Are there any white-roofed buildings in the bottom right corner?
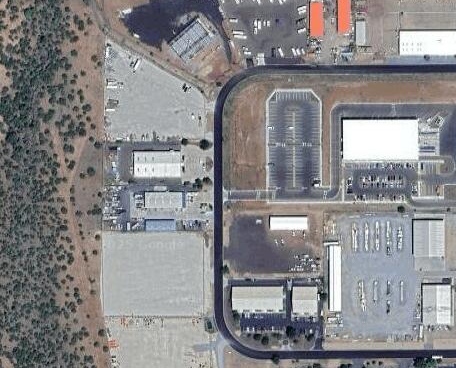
Yes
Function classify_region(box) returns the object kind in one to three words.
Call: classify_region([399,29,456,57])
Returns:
building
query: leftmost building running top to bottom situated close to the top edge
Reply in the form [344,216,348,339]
[310,1,323,38]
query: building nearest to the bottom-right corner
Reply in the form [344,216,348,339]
[422,283,451,325]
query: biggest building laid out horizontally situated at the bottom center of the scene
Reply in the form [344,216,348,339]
[231,287,283,312]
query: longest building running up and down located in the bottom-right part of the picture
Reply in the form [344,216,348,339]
[328,246,341,311]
